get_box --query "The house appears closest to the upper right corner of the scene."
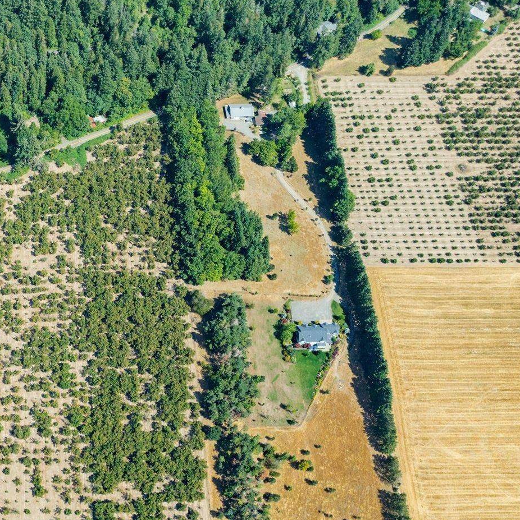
[466,0,492,26]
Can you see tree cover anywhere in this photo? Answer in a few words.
Yes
